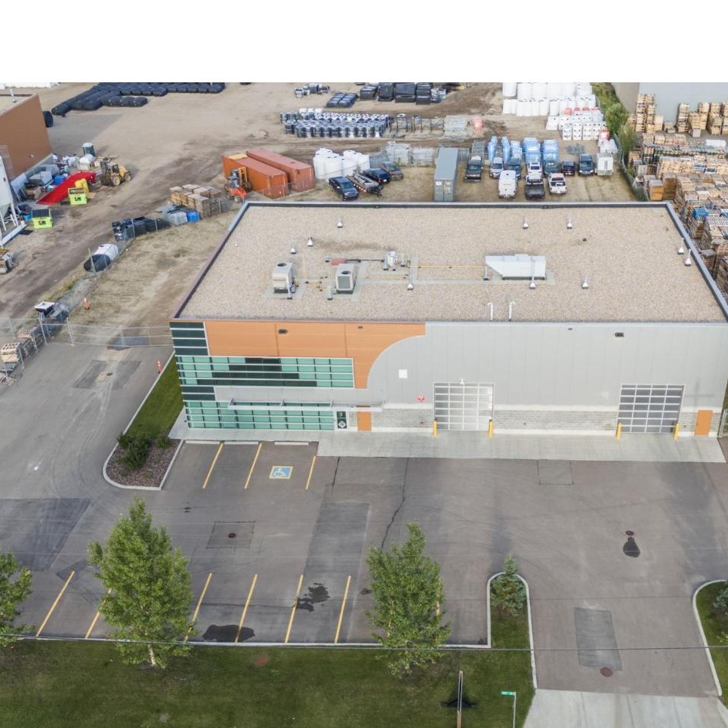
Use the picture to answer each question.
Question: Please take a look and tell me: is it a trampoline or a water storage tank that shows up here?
water storage tank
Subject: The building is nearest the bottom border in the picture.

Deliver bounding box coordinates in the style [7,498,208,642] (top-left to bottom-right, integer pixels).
[168,202,728,437]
